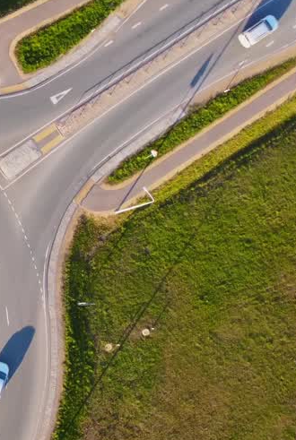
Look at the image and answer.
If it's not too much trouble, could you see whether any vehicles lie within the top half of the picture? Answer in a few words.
Yes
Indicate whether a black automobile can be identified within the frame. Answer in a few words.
No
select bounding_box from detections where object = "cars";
[235,16,278,48]
[0,362,8,396]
